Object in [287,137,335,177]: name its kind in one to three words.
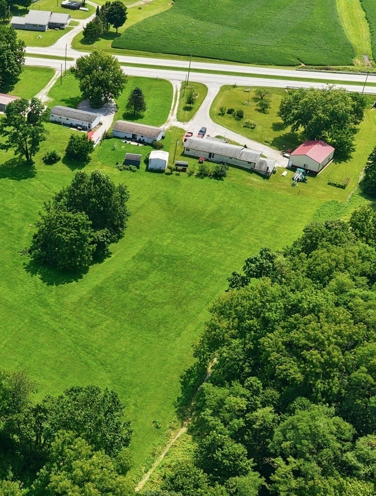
barn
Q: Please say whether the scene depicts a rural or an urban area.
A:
rural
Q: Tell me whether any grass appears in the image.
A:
Yes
